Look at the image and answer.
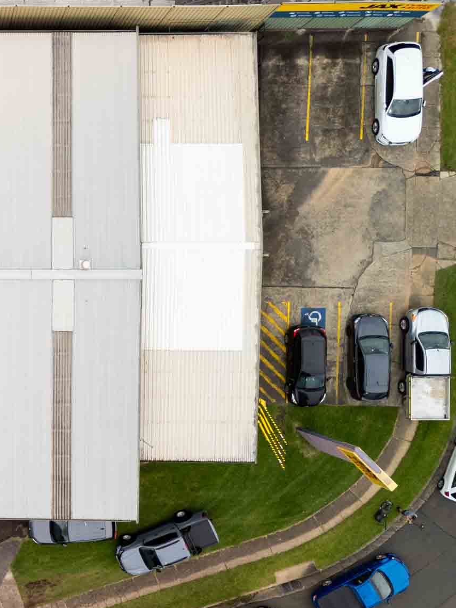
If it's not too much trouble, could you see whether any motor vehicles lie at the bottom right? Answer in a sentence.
Yes, the scene does show a motor vehicle at the bottom right.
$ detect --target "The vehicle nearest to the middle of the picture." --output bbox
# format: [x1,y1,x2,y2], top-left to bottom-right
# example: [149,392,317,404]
[281,325,330,405]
